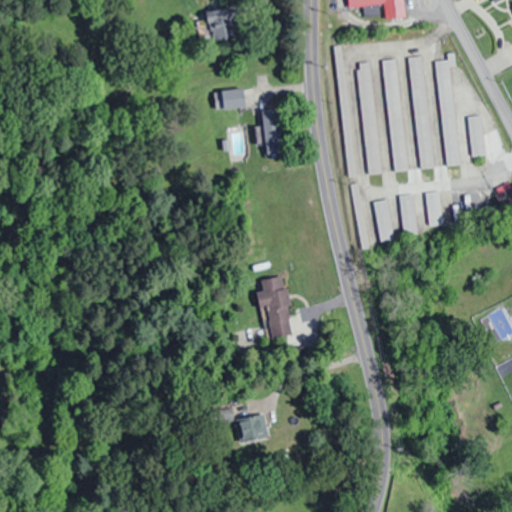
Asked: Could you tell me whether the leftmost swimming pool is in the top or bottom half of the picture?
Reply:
top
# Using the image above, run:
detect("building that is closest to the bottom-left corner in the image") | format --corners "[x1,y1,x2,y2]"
[238,412,272,446]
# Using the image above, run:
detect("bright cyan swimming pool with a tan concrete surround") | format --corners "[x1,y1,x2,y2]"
[227,126,246,164]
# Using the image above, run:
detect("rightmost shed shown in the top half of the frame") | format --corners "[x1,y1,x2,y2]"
[468,114,485,156]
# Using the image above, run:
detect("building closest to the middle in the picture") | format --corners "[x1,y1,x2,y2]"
[258,277,294,337]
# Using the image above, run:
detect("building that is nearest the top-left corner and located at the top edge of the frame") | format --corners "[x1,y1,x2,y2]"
[197,8,236,40]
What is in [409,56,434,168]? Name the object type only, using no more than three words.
shed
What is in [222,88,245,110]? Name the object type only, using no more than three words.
building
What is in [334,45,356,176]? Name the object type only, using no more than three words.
shed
